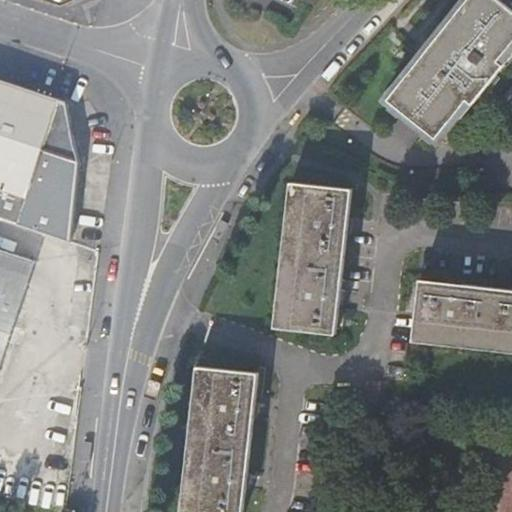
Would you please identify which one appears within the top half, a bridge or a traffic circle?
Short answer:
traffic circle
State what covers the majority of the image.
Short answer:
paved ground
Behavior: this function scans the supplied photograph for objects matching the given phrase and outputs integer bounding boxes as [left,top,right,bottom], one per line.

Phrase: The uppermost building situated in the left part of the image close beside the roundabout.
[0,78,80,242]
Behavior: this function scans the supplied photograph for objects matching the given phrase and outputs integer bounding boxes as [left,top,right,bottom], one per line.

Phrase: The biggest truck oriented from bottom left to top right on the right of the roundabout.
[320,56,345,82]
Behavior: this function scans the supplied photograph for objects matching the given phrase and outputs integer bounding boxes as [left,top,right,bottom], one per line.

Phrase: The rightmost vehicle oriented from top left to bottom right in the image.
[215,46,233,68]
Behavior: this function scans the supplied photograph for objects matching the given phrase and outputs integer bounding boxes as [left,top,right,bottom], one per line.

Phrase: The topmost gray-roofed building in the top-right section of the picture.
[379,0,512,146]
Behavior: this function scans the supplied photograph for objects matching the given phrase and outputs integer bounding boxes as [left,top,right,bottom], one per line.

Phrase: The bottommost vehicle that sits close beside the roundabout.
[236,180,252,198]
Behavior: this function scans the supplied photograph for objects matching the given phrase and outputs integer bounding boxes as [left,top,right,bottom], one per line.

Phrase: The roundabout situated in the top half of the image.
[134,42,274,182]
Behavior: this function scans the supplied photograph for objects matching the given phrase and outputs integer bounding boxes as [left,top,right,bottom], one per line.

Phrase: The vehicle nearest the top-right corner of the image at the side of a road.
[364,16,382,35]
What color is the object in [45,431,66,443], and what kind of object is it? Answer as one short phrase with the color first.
white vehicle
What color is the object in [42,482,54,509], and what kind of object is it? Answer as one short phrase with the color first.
white vehicle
